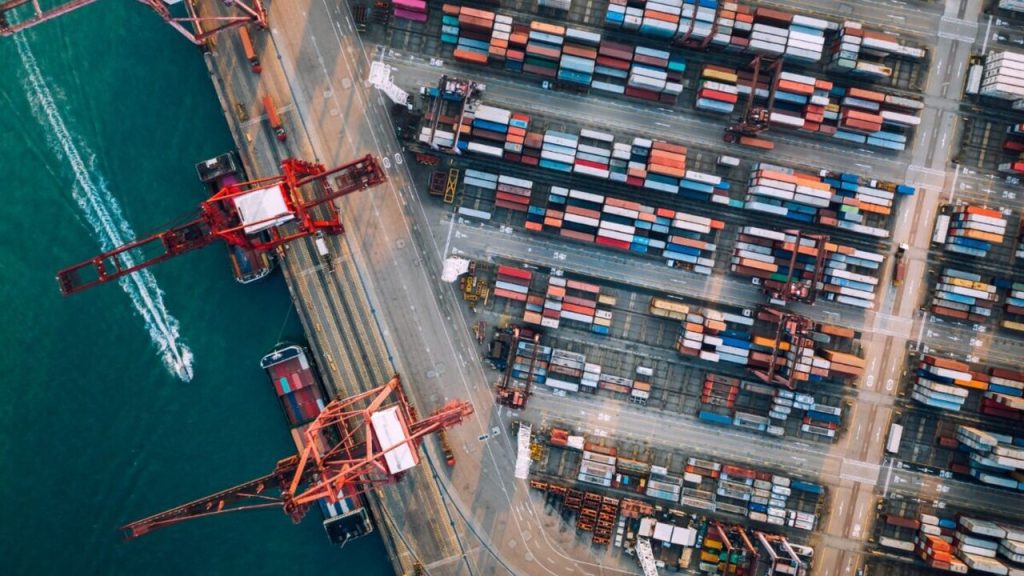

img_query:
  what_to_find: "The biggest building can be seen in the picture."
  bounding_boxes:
[642,520,700,549]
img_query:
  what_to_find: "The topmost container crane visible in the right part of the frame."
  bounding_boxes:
[674,0,722,54]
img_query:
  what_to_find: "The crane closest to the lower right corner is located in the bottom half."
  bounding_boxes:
[757,531,807,576]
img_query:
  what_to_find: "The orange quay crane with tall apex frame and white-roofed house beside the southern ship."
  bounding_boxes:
[118,369,476,540]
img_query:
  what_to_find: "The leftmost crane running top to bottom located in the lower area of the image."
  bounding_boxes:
[497,324,545,407]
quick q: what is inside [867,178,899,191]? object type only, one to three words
vehicle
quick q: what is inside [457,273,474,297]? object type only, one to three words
work vehicle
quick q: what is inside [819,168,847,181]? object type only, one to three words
vehicle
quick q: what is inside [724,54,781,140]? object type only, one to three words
container crane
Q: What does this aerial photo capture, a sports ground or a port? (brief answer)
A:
port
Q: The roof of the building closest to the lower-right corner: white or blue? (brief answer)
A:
white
